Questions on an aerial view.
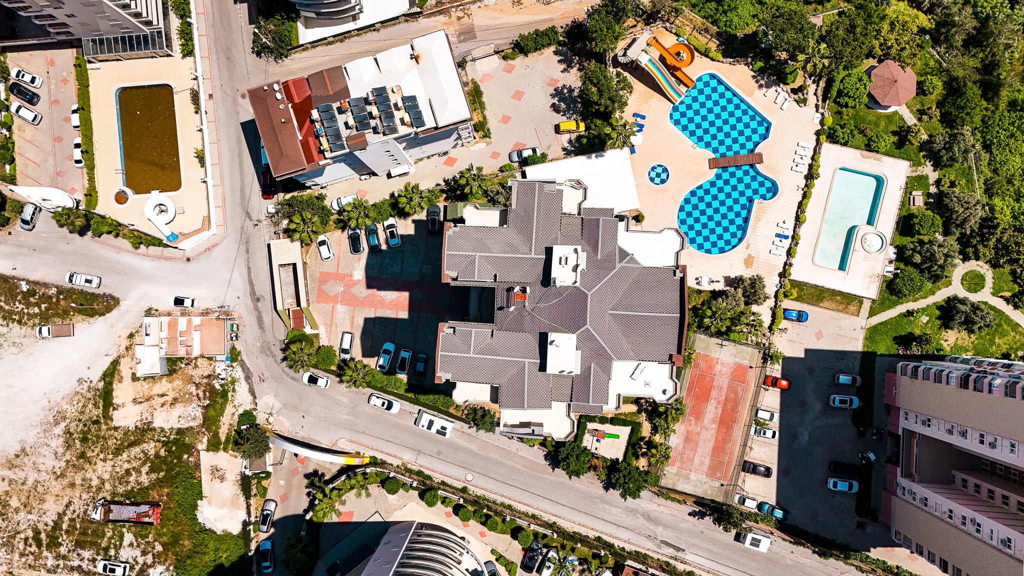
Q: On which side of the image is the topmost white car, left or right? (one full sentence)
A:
The topmost white car appears in the left half of the scene.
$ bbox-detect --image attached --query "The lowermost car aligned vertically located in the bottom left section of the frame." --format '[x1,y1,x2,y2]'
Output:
[259,539,276,571]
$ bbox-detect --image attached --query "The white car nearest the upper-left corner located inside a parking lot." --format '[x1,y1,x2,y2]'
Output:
[11,69,44,89]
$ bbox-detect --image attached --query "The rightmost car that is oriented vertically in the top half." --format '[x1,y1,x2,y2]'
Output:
[428,206,440,233]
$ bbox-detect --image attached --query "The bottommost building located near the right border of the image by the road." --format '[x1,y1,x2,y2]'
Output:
[878,352,1024,576]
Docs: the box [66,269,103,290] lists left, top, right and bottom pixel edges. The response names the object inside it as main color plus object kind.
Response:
white vehicle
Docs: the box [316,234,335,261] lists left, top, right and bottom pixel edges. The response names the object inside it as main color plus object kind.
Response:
white car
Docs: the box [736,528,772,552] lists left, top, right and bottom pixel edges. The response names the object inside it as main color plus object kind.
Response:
white vehicle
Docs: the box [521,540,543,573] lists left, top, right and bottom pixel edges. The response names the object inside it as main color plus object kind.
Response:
black car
